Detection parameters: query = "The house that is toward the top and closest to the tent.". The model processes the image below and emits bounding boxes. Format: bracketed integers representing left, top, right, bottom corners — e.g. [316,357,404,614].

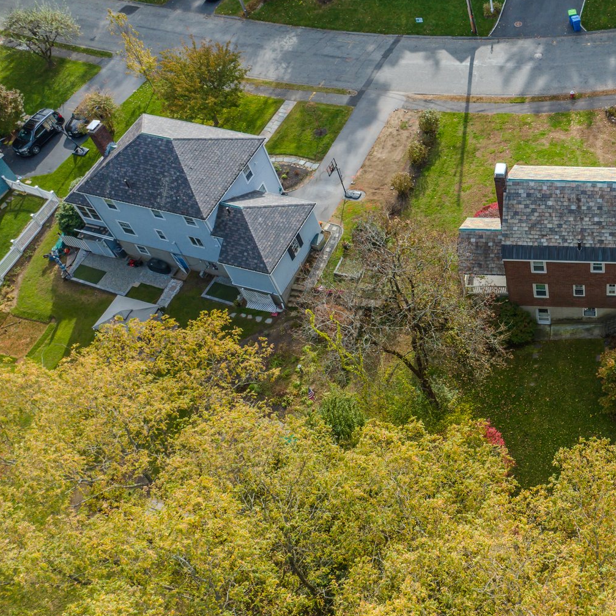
[59,112,318,311]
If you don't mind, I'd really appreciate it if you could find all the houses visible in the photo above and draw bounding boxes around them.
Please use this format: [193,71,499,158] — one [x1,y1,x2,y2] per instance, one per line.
[458,157,616,342]
[0,161,15,202]
[59,112,318,311]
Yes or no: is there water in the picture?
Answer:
No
